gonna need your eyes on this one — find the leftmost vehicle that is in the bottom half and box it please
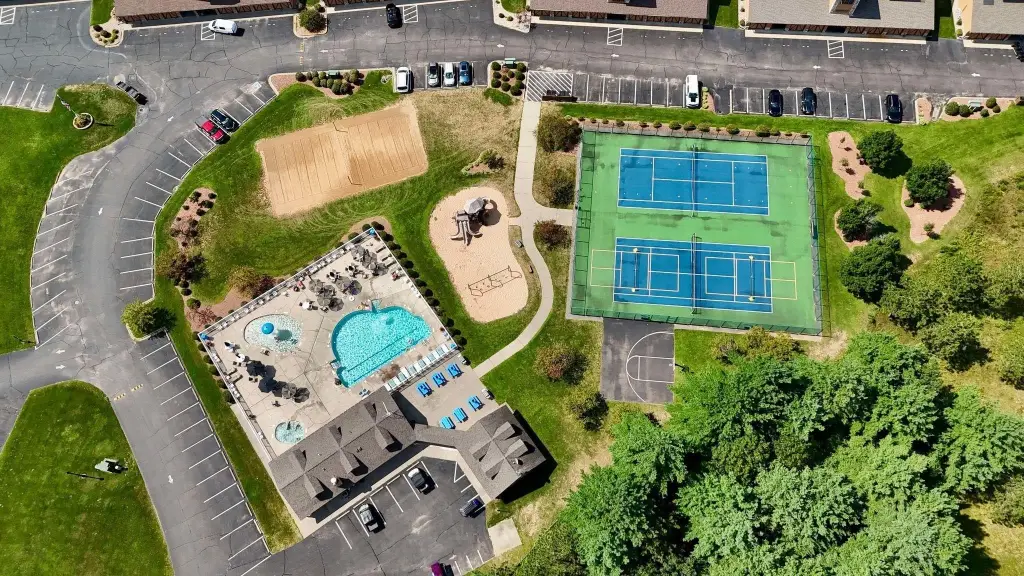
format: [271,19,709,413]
[358,500,383,533]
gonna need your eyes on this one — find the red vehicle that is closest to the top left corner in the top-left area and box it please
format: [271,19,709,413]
[197,116,227,142]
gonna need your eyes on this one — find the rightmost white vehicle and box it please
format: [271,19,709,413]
[685,72,700,109]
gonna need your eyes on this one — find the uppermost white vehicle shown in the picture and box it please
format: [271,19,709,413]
[209,20,240,36]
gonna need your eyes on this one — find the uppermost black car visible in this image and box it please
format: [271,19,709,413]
[386,5,400,29]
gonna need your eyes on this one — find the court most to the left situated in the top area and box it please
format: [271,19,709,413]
[256,99,428,217]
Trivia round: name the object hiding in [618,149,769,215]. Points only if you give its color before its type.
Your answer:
blue tennis court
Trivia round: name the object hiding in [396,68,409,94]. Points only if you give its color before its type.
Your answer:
white vehicle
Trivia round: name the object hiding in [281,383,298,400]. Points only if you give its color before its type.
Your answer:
gray umbrella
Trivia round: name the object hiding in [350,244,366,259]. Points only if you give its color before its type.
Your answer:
gray umbrella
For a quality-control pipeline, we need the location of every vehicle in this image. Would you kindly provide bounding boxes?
[800,87,816,115]
[443,62,456,88]
[396,68,409,94]
[885,94,902,123]
[768,90,782,118]
[456,494,488,521]
[386,5,400,29]
[358,500,383,533]
[685,72,700,109]
[209,20,240,36]
[427,62,440,87]
[458,61,471,86]
[212,110,238,133]
[1007,40,1024,65]
[428,557,448,576]
[197,116,227,142]
[407,466,433,497]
